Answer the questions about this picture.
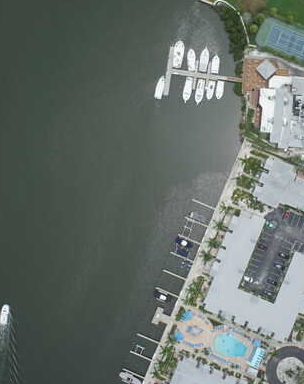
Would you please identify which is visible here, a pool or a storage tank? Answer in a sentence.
The one in the frame is a pool.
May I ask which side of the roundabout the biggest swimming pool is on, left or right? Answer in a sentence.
Looking at the photo, the biggest swimming pool lies to the left of the roundabout.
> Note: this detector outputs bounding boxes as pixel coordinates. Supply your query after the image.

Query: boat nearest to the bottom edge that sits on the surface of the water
[118,370,141,384]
